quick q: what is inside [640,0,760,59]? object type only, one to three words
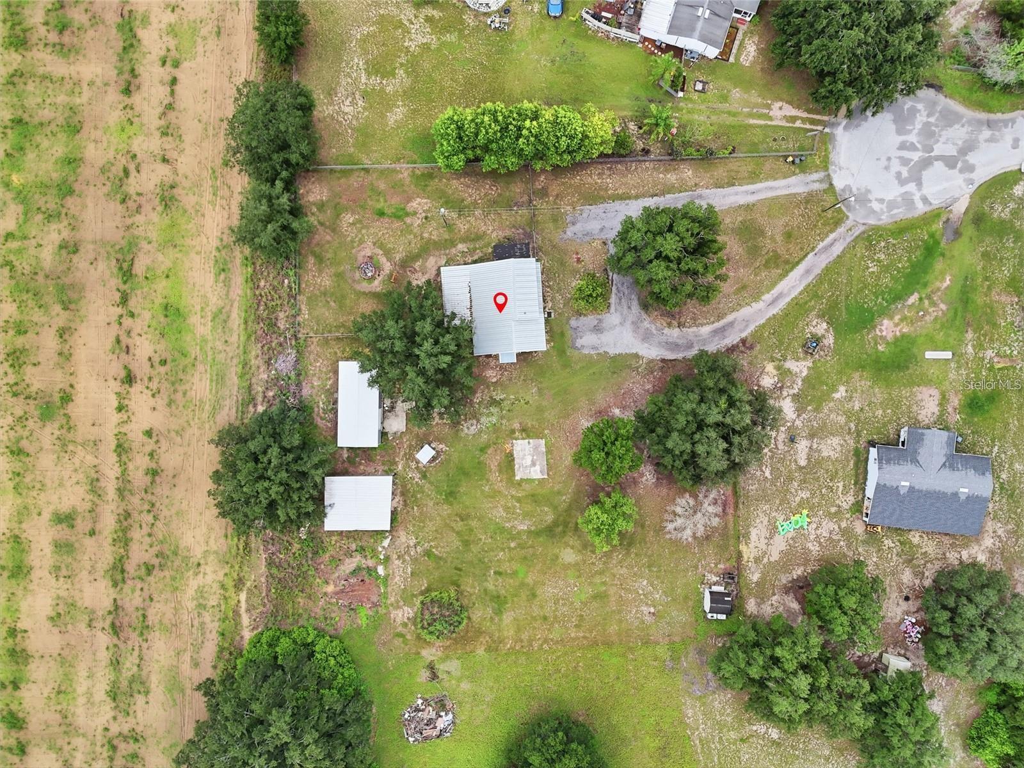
house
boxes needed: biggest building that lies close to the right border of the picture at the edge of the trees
[858,427,994,536]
